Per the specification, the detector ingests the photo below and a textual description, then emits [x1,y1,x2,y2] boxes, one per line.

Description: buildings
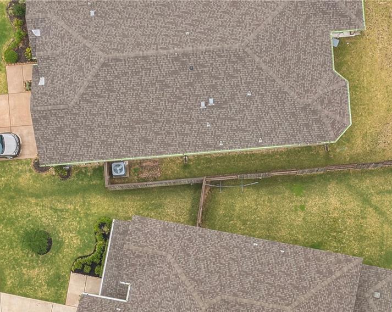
[77,216,392,312]
[25,0,367,168]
